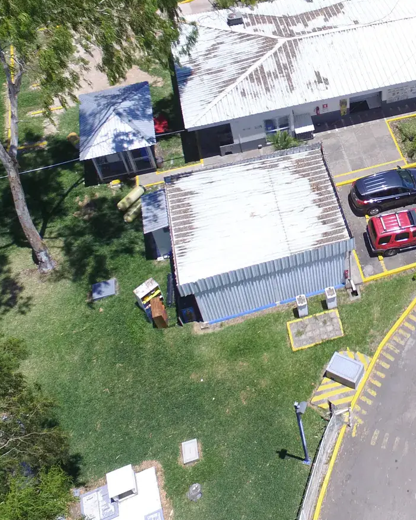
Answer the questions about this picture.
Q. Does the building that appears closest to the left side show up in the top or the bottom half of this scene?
top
